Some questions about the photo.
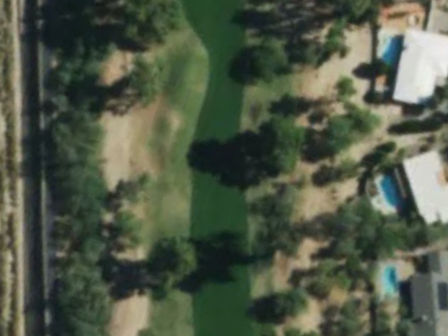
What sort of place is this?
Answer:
golf course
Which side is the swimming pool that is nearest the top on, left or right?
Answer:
right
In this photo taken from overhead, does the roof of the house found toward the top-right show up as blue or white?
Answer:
white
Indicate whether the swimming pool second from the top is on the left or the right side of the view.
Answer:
right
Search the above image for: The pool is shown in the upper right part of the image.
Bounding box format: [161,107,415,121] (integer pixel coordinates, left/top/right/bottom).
[378,34,404,70]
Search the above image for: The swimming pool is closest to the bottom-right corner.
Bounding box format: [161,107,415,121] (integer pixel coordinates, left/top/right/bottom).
[383,264,398,297]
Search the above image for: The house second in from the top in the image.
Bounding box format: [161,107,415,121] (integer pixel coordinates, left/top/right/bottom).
[404,151,448,224]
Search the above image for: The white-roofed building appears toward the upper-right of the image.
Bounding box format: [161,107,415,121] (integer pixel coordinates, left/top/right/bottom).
[393,28,448,105]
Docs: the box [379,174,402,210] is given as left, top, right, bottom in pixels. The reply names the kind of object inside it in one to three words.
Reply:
swimming pool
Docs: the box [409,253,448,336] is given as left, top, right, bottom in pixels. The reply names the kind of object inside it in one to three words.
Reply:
house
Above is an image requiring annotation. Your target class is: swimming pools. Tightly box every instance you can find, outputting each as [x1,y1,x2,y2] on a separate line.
[379,174,402,210]
[378,34,404,70]
[383,264,398,297]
